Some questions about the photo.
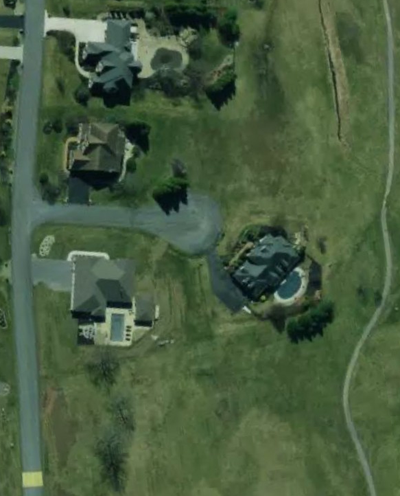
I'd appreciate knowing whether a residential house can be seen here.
Yes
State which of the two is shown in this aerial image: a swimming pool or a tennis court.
swimming pool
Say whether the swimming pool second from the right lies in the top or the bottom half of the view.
top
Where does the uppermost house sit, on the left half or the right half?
left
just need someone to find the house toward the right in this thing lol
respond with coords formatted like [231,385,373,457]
[227,223,300,302]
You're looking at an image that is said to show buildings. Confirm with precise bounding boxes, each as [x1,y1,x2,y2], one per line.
[71,253,135,311]
[69,121,125,173]
[227,223,300,302]
[85,18,145,96]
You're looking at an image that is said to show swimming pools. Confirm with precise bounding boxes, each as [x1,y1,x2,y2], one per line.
[150,46,183,70]
[109,315,125,341]
[276,269,302,301]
